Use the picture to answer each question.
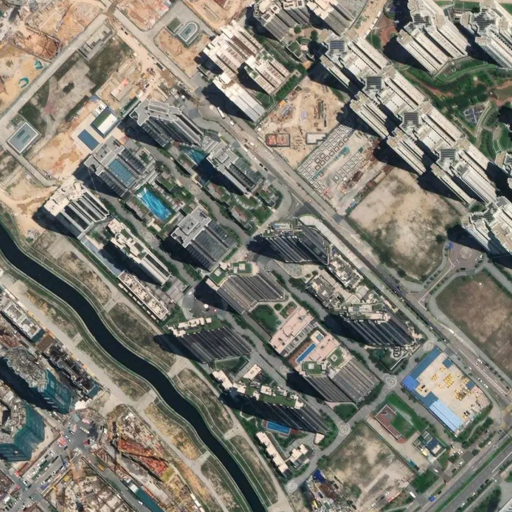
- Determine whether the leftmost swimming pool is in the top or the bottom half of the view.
top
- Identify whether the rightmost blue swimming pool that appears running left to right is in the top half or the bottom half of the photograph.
bottom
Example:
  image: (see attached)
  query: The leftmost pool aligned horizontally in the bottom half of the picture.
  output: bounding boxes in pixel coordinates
[263,418,294,437]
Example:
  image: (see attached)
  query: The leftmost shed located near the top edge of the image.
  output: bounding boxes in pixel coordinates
[78,24,112,61]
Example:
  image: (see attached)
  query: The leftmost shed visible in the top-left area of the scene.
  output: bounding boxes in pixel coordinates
[8,124,42,154]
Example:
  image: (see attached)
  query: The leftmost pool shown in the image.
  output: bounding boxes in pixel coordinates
[74,126,102,153]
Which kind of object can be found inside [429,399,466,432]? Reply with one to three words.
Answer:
shed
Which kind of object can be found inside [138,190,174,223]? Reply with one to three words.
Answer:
swimming pool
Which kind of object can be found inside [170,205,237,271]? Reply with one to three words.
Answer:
building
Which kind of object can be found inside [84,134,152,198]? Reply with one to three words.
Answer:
building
